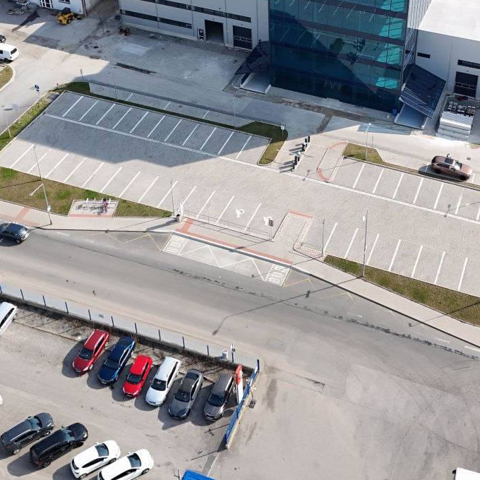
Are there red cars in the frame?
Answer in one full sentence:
Yes, looking at the shot, I can spot a red car.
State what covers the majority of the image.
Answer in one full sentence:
Most of the picture is covered by paved ground.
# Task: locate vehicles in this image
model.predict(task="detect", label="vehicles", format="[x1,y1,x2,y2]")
[98,334,139,385]
[121,353,157,398]
[0,303,18,340]
[98,449,153,480]
[28,422,88,468]
[0,34,9,43]
[71,327,111,376]
[146,355,183,407]
[202,371,236,423]
[0,42,20,62]
[55,6,81,22]
[168,367,206,420]
[67,439,122,480]
[0,410,57,456]
[430,154,471,182]
[0,222,32,243]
